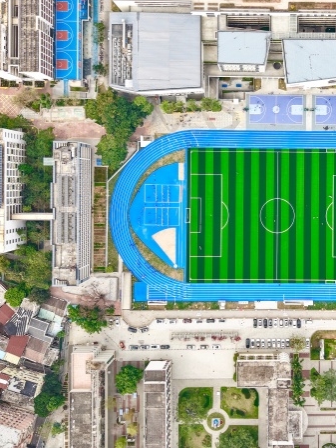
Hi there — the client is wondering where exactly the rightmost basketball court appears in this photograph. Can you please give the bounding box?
[313,93,336,129]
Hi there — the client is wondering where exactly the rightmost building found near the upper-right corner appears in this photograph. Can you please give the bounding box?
[283,40,336,88]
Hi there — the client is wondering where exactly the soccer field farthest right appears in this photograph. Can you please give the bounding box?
[187,148,336,283]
